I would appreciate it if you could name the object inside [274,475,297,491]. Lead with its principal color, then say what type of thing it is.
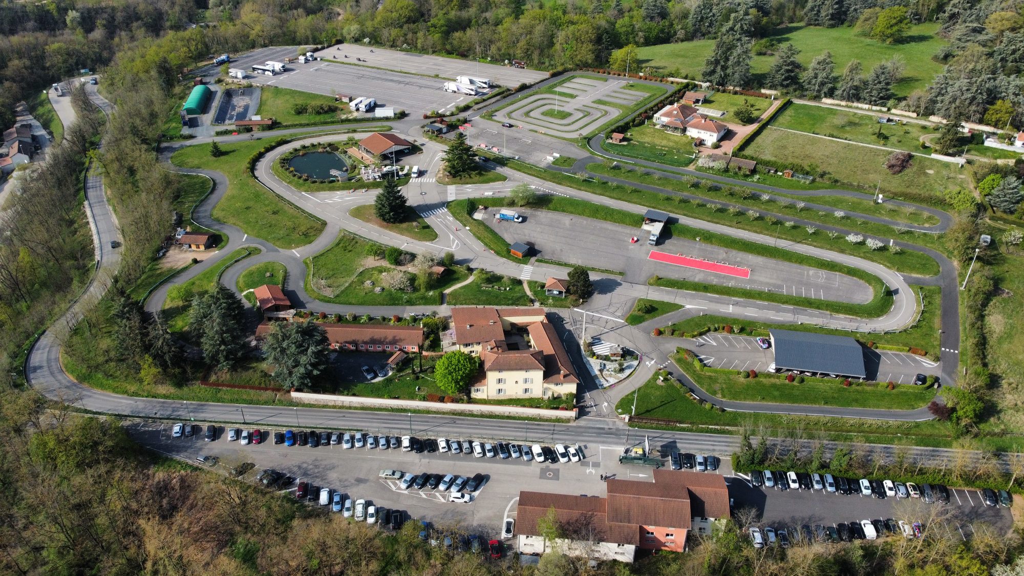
black car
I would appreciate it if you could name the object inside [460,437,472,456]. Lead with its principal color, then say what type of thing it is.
gray vehicle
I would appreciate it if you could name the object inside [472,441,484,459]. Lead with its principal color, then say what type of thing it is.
white vehicle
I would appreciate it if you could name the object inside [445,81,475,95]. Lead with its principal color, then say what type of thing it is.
white vehicle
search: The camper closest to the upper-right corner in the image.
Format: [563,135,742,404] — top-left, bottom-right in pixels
[979,231,991,247]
